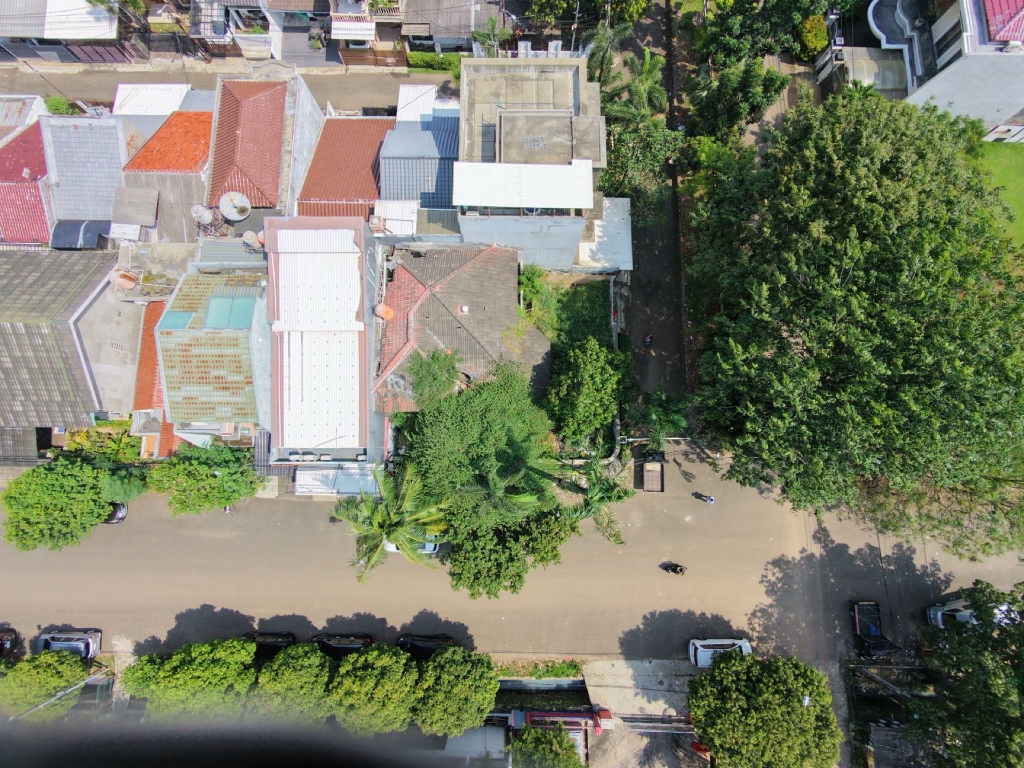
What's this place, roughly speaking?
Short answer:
residential area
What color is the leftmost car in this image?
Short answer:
black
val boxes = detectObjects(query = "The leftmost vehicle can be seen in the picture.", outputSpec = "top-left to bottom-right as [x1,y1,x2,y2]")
[0,628,20,657]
